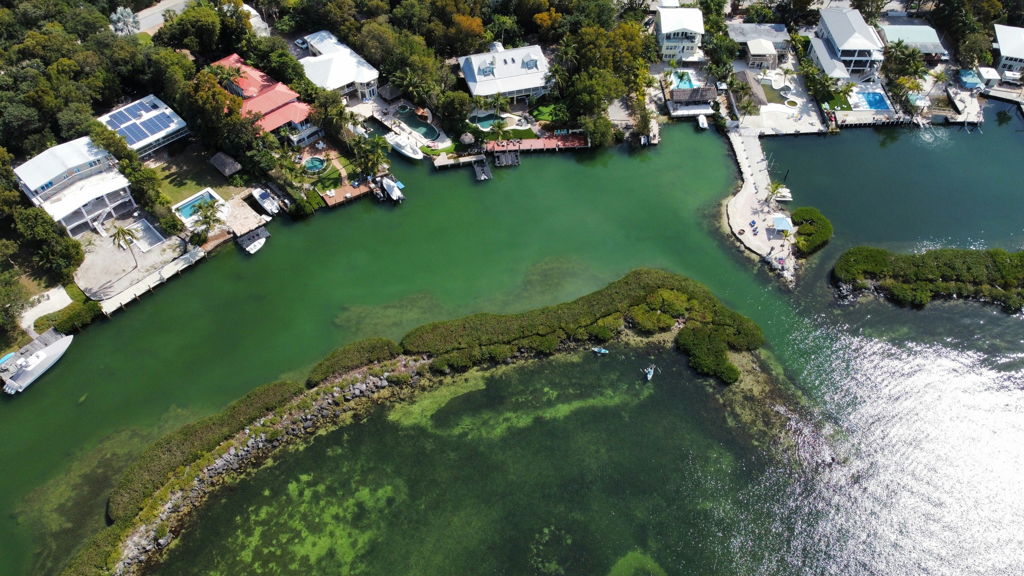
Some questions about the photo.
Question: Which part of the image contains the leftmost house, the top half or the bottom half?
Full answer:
The leftmost house sits in the top half of the picture.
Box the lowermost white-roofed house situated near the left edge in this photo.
[14,136,137,238]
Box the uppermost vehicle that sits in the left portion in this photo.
[291,38,309,51]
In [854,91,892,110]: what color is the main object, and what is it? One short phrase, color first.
blue swimming pool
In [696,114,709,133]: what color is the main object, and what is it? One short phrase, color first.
white boat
